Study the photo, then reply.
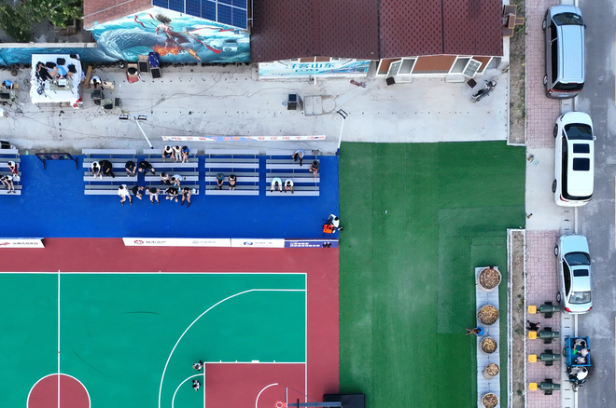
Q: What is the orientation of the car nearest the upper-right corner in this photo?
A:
from top to bottom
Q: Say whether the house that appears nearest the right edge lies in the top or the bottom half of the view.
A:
top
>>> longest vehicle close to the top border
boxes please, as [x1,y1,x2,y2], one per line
[543,5,588,100]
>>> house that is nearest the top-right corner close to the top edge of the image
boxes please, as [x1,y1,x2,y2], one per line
[376,0,502,91]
